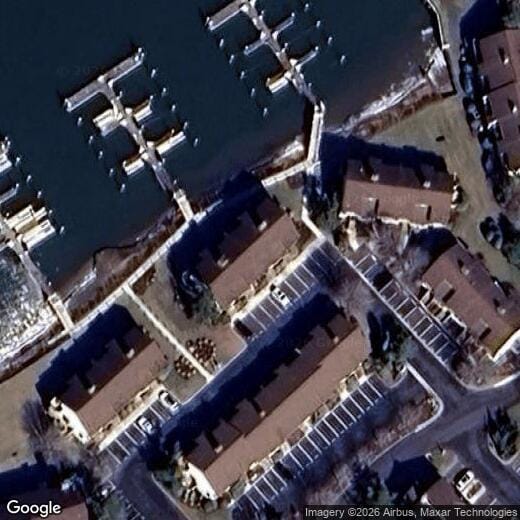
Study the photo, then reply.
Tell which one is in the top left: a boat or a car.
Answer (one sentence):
There is a boat in the top left.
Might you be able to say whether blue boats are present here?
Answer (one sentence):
No, this view has no blue boat in it.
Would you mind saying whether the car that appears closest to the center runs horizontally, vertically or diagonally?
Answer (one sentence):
What the image shows is the car that appears closest to the center lying diagonally.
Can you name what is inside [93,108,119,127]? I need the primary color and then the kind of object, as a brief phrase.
white boat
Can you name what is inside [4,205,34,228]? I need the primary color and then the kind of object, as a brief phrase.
white boat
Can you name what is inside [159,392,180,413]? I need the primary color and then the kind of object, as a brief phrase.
white car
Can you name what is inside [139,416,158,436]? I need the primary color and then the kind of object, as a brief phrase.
white car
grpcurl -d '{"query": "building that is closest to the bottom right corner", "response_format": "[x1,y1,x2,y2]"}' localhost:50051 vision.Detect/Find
[413,474,469,520]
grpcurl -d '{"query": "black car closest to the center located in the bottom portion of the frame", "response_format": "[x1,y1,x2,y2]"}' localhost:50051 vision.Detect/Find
[235,318,254,338]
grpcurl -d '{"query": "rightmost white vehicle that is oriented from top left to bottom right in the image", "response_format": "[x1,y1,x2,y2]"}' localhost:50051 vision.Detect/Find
[272,285,292,306]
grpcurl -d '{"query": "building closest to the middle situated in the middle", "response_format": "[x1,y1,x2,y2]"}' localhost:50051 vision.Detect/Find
[196,205,305,319]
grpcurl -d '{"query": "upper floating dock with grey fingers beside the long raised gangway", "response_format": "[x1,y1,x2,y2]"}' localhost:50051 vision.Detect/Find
[208,0,318,110]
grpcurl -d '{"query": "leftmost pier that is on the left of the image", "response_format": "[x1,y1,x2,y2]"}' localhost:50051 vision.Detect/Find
[0,191,54,301]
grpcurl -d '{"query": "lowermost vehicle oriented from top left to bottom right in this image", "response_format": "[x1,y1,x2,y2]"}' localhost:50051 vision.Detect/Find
[275,461,292,479]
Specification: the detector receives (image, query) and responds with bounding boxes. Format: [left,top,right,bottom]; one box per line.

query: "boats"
[421,29,433,37]
[32,206,49,220]
[93,108,119,127]
[0,156,12,172]
[268,73,287,87]
[124,154,144,169]
[153,136,177,152]
[20,222,54,248]
[4,205,34,228]
[131,102,151,117]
